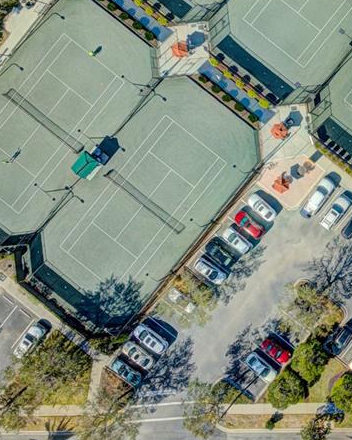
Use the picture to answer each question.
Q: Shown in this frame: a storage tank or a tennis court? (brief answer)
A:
tennis court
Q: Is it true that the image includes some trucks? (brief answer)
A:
No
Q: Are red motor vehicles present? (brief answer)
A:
Yes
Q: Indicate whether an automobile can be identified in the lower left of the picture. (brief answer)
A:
Yes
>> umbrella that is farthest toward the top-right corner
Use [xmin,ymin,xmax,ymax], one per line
[273,121,289,137]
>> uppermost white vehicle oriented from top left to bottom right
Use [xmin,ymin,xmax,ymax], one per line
[245,194,277,223]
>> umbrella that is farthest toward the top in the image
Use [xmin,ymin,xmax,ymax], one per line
[173,40,191,57]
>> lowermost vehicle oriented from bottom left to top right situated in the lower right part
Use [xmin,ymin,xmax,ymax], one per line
[325,322,352,357]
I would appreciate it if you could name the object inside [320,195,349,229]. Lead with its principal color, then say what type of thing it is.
white car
